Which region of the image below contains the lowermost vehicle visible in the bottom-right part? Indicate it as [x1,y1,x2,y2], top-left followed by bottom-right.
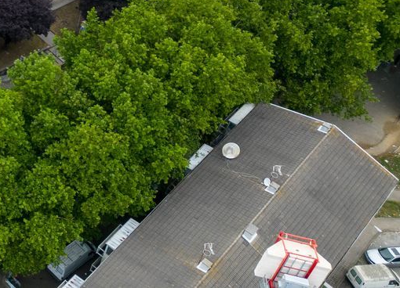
[343,263,400,288]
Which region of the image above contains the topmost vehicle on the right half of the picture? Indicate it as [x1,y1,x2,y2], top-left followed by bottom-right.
[361,243,400,267]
